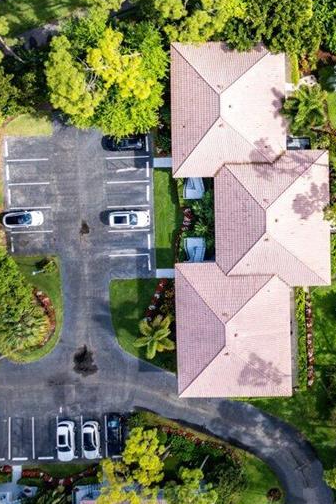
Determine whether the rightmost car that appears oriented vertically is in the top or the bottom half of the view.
bottom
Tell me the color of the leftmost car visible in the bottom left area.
white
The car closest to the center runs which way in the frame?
from left to right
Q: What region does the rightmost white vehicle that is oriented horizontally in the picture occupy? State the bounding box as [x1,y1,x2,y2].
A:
[109,209,152,229]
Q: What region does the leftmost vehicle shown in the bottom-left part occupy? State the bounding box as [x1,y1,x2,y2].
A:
[55,419,78,461]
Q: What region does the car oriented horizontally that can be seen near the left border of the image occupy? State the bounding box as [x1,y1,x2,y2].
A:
[3,210,46,229]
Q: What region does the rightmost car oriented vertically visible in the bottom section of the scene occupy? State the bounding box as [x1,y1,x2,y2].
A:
[103,413,124,456]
